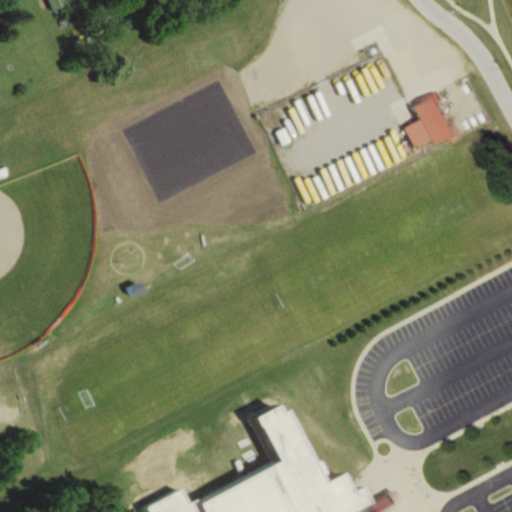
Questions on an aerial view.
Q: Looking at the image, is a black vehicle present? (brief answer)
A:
No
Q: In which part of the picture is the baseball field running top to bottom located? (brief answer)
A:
left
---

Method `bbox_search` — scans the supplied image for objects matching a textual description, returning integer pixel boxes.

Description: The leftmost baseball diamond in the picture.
[0,156,94,358]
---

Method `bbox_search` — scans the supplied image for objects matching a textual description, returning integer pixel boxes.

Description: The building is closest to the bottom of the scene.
[148,403,376,512]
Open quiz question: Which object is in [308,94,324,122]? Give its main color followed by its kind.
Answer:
white vehicle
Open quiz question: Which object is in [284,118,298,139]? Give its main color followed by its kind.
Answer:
white vehicle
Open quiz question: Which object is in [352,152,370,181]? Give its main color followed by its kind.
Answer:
yellow vehicle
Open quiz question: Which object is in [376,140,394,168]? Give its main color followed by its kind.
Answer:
yellow vehicle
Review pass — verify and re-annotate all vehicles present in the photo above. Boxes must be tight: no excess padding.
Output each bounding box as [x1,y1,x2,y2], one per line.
[342,74,361,106]
[314,174,330,202]
[360,148,378,176]
[468,114,478,128]
[294,176,312,206]
[385,136,402,164]
[460,79,470,94]
[331,78,346,98]
[441,93,450,104]
[284,118,298,139]
[304,177,322,205]
[295,98,312,127]
[376,140,394,168]
[352,152,370,181]
[346,156,362,184]
[308,94,324,122]
[321,168,338,196]
[329,164,346,193]
[461,118,470,131]
[368,144,386,172]
[316,90,331,118]
[390,130,401,145]
[374,58,389,80]
[350,69,370,99]
[288,108,304,136]
[338,159,354,188]
[364,62,384,90]
[398,144,408,160]
[359,64,378,96]
[476,110,486,124]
